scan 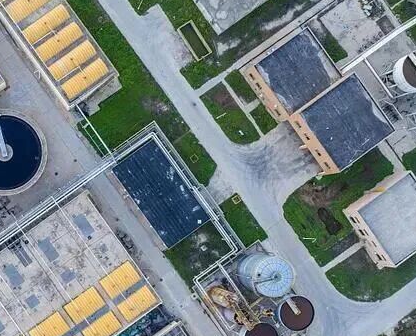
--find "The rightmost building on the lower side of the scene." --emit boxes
[341,173,416,267]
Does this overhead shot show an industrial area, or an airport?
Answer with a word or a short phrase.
industrial area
